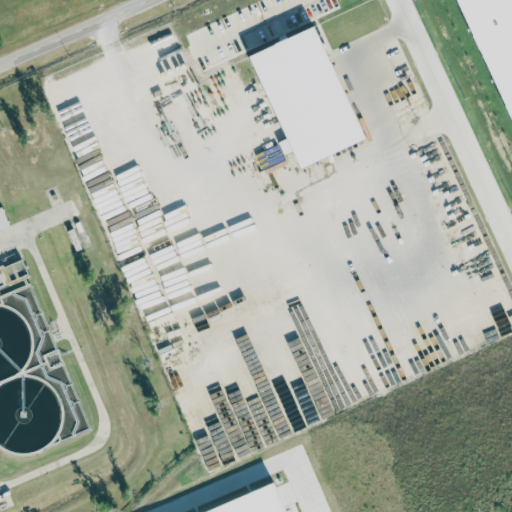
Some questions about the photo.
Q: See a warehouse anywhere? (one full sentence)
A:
Yes, the picture does show a warehouse.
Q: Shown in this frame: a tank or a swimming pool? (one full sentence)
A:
I can see a tank in this picture.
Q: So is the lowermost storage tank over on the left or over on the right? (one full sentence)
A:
The lowermost storage tank appears in the left half of the scene.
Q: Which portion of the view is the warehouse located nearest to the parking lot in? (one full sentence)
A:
You can find the warehouse located nearest to the parking lot in the top area of the picture.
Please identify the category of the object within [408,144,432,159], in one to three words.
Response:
vehicle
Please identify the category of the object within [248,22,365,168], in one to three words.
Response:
warehouse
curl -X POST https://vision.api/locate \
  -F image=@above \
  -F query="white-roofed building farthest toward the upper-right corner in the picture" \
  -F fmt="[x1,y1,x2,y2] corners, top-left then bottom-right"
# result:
[458,0,512,122]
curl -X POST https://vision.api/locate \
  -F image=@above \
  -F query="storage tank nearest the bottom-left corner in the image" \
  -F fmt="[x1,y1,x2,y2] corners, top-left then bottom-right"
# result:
[0,374,64,456]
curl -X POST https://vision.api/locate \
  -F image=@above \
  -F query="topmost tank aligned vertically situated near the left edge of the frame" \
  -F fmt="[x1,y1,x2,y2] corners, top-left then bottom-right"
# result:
[0,303,32,383]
